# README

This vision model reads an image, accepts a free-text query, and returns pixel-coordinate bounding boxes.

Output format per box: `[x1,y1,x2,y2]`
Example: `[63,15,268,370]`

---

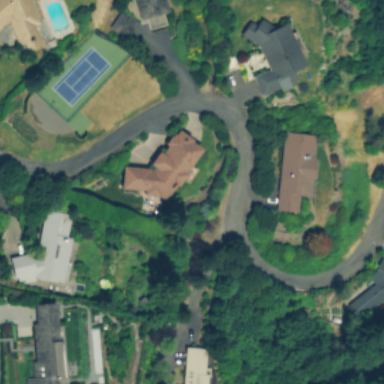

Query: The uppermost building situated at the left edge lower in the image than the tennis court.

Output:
[11,212,72,284]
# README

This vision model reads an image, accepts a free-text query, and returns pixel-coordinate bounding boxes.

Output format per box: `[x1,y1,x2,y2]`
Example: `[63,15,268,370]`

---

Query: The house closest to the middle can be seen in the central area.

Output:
[123,131,206,199]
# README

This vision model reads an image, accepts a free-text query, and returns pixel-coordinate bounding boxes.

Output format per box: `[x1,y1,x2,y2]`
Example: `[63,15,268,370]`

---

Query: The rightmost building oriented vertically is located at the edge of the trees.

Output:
[279,132,316,213]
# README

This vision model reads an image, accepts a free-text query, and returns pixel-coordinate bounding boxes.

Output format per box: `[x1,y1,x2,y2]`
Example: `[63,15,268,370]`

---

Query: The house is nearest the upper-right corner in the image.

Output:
[242,18,308,96]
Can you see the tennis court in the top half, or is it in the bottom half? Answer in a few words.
top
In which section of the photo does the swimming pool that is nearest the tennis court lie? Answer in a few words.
top left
